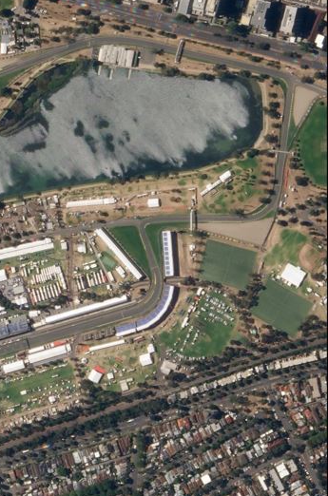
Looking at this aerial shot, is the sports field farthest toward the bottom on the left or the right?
right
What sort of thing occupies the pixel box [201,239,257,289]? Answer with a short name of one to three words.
sports field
